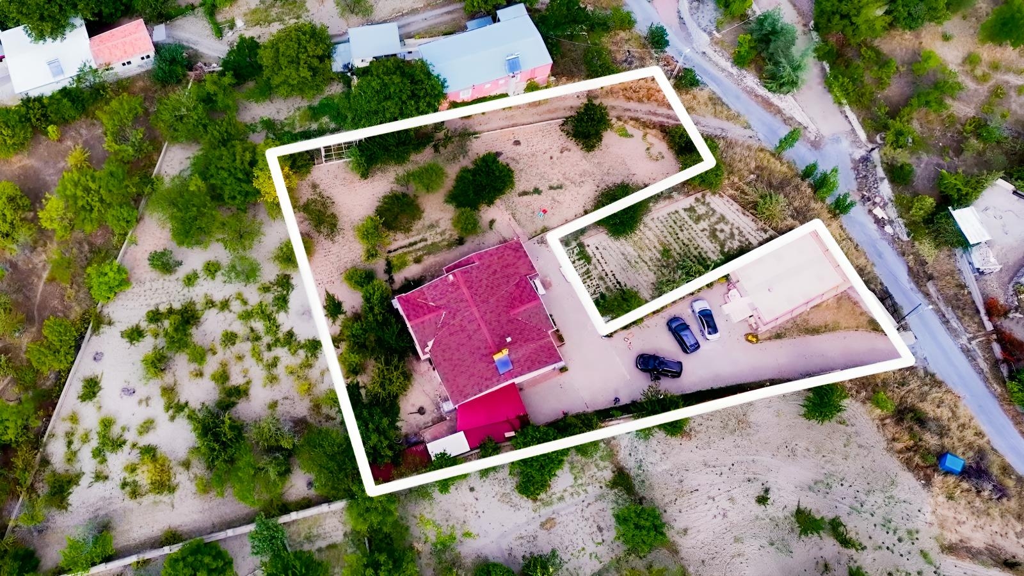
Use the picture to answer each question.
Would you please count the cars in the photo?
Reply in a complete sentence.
The photo contains 3 cars.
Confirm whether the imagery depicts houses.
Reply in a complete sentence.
Yes, looking at the shot, I can spot a house.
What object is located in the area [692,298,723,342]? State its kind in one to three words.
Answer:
car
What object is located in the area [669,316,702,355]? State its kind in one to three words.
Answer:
car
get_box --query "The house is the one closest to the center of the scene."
[395,239,565,414]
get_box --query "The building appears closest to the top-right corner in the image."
[728,228,851,330]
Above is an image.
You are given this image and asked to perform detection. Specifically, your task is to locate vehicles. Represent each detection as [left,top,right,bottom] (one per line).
[692,298,723,342]
[635,352,684,387]
[669,316,702,355]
